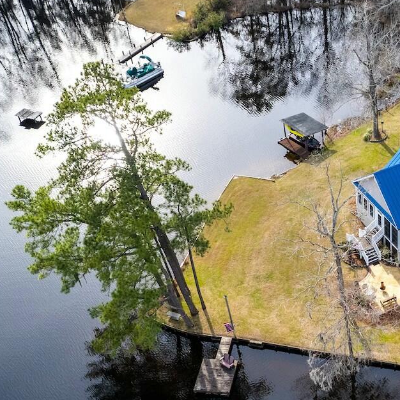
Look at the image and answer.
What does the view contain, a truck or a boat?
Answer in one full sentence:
This aerial view contains a boat.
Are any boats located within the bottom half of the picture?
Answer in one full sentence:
No, no boat can be made out within the bottom half of the picture.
